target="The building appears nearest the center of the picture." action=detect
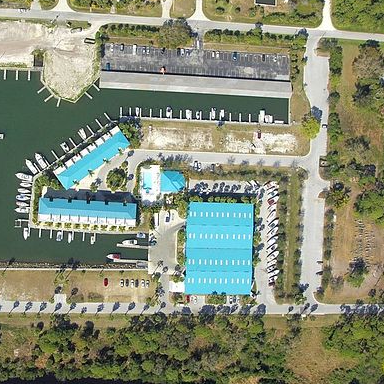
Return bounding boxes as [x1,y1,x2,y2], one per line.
[161,170,186,192]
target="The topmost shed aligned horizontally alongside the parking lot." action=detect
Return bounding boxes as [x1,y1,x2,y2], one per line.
[100,71,292,98]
